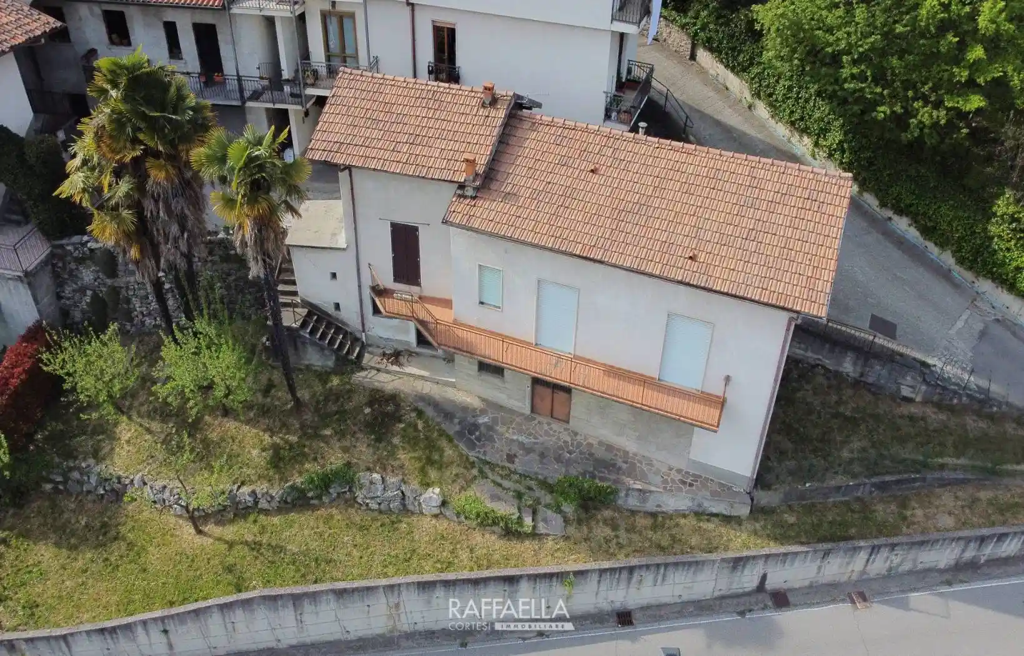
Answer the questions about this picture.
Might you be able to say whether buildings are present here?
Yes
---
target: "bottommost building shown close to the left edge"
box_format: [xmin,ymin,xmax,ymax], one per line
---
[0,222,73,334]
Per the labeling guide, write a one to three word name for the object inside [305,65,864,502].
house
